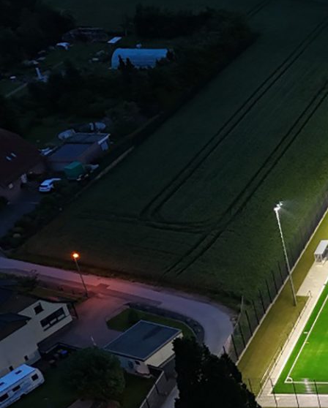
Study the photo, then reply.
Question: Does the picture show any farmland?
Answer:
Yes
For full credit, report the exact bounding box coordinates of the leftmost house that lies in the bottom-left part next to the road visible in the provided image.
[0,286,72,366]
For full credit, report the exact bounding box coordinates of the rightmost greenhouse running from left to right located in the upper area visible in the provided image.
[108,50,160,68]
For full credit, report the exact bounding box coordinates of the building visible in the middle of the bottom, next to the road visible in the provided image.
[105,318,186,377]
